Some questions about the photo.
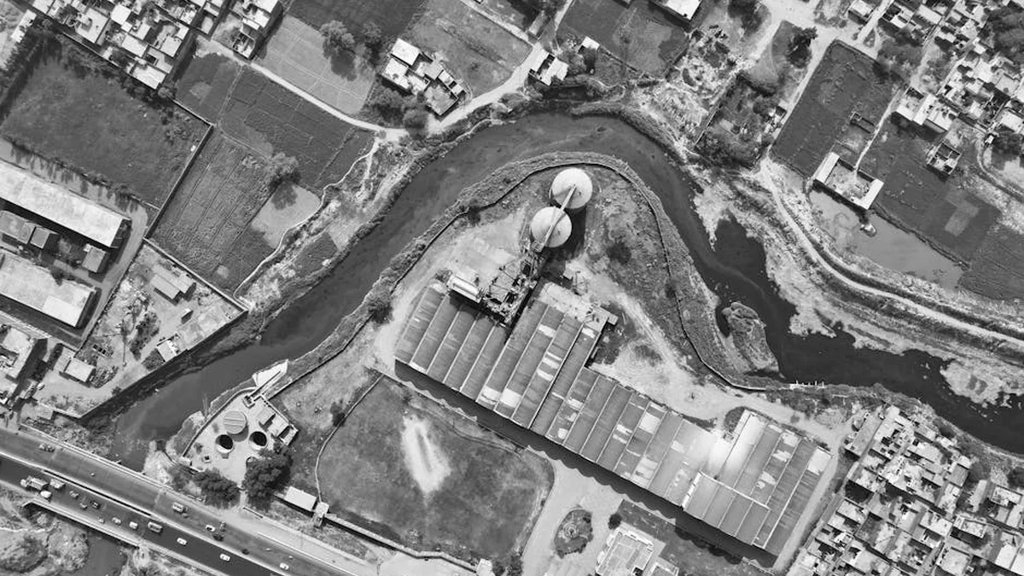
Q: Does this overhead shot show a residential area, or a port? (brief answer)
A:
residential area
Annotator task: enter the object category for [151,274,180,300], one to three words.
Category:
building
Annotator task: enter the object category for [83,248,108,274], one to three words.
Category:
shed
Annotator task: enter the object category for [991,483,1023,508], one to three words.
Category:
house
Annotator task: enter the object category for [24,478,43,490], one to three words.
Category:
vehicle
